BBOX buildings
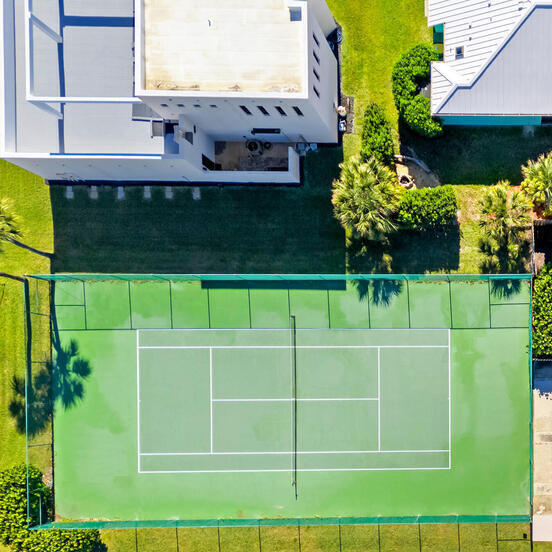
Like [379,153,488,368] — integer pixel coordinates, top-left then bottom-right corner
[1,0,337,184]
[428,0,552,125]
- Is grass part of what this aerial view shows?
Yes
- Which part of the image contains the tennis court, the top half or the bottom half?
bottom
